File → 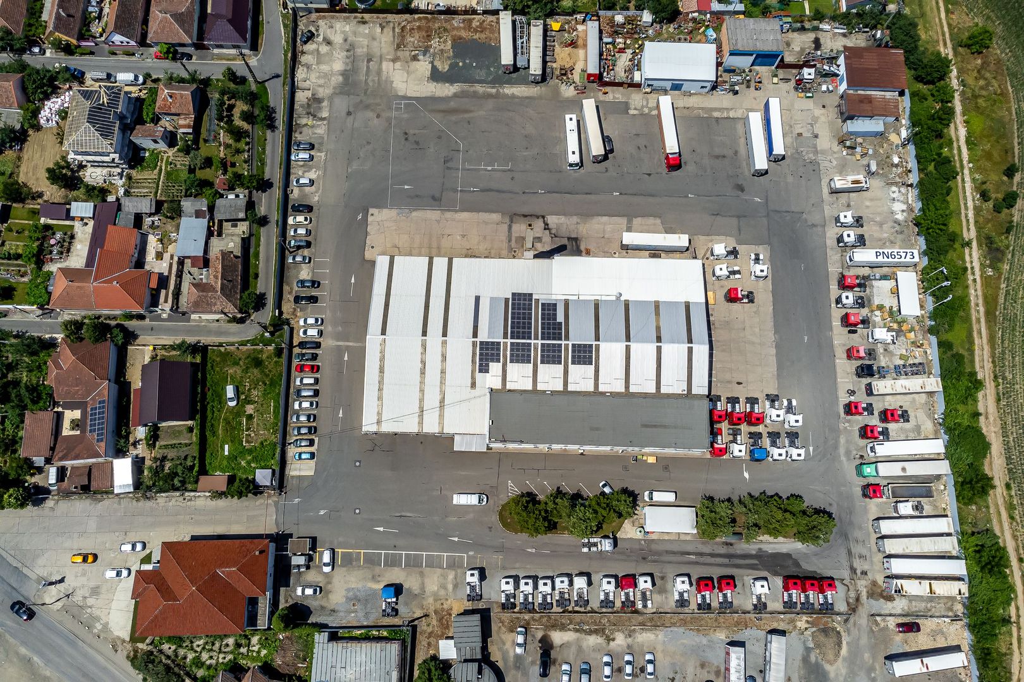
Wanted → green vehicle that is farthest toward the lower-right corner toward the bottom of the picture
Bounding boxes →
[851,462,882,478]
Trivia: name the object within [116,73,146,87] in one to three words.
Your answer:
vehicle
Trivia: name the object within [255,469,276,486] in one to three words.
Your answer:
gazebo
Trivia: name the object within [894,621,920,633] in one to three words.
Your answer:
vehicle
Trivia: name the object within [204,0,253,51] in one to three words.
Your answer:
house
